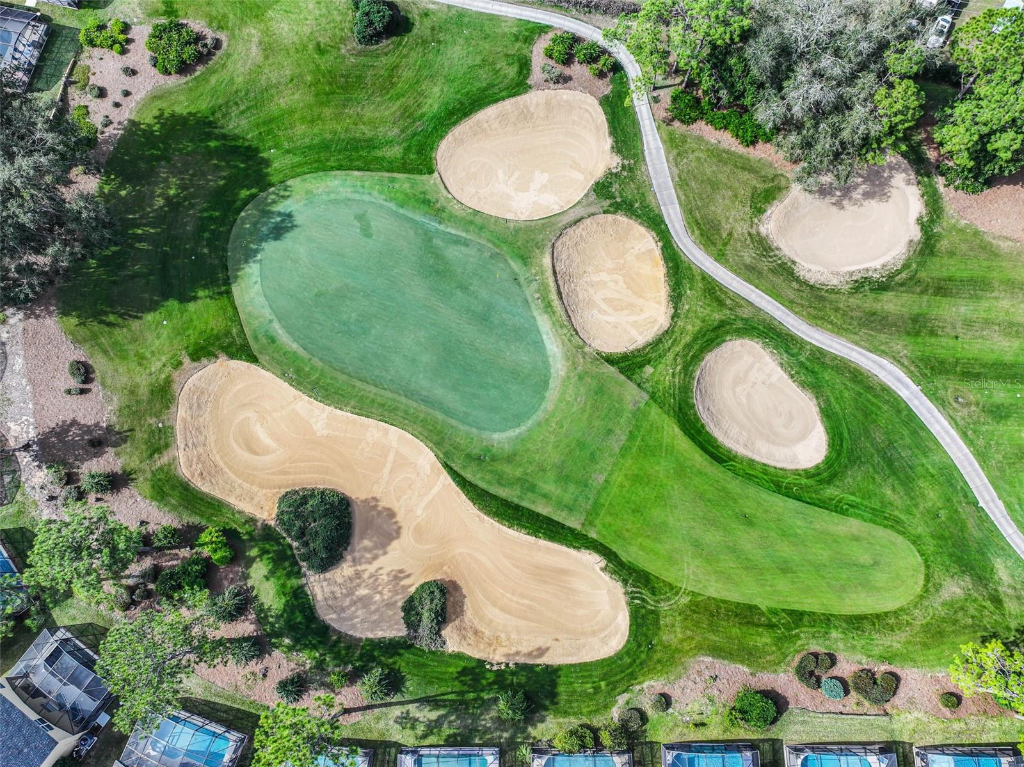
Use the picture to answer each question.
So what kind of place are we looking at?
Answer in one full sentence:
The picture captures a golf course.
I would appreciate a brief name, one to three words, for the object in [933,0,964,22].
truck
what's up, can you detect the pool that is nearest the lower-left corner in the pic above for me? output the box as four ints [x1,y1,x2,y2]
[20,627,113,731]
